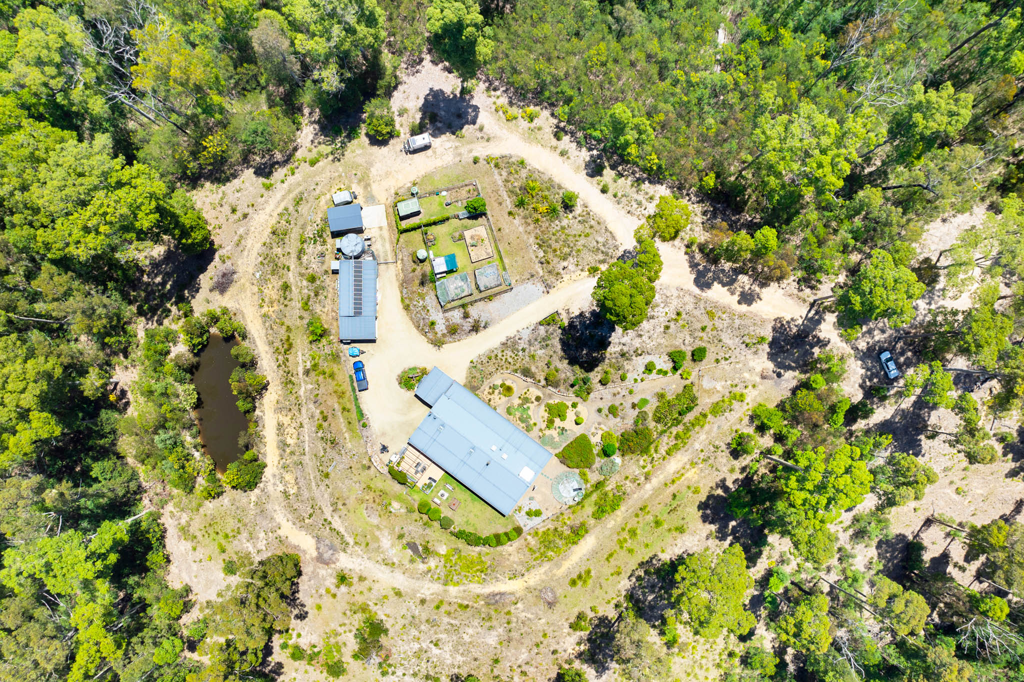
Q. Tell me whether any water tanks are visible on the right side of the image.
No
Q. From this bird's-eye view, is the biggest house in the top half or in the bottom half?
bottom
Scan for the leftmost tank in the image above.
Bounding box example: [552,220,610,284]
[340,233,366,260]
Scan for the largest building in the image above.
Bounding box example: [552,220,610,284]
[408,381,554,516]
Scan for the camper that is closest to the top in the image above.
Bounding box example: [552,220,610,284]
[403,131,433,151]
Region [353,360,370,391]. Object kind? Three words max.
vehicle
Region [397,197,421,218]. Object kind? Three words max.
shed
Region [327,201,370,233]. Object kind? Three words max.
shed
